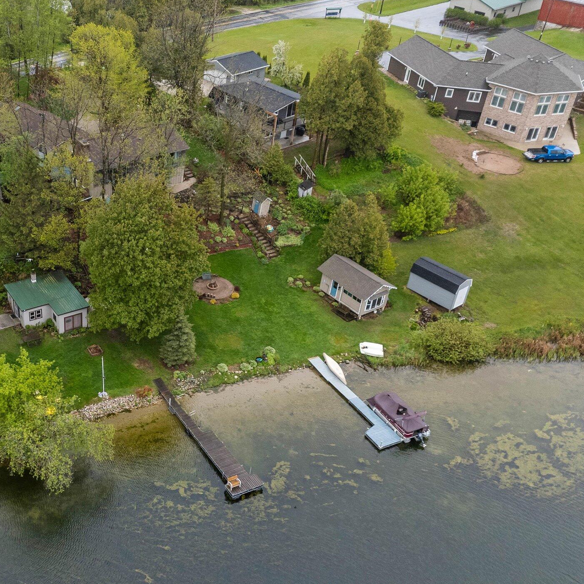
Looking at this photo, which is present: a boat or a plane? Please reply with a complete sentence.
Of the two, only a boat appears.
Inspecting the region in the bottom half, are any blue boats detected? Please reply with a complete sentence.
No, in the bottom half there is no blue boat.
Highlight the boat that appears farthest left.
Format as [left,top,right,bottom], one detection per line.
[324,353,346,385]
